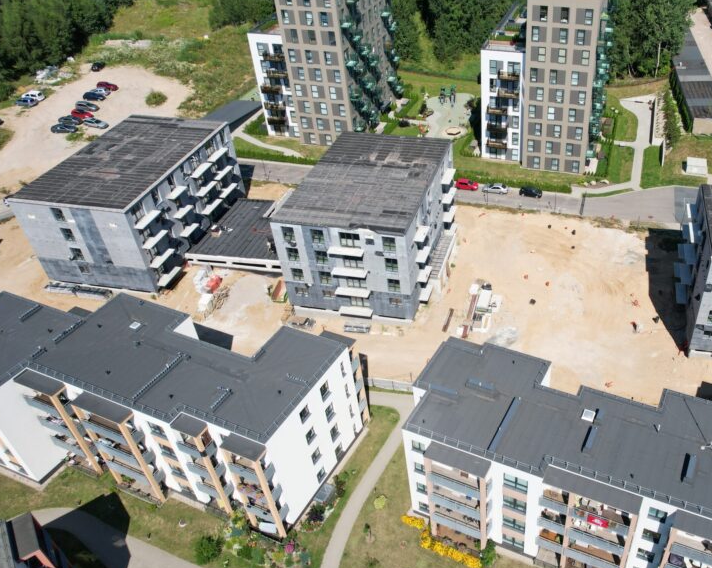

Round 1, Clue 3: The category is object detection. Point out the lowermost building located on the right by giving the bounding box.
[402,341,712,568]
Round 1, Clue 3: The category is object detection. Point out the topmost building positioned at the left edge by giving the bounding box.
[7,116,245,295]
